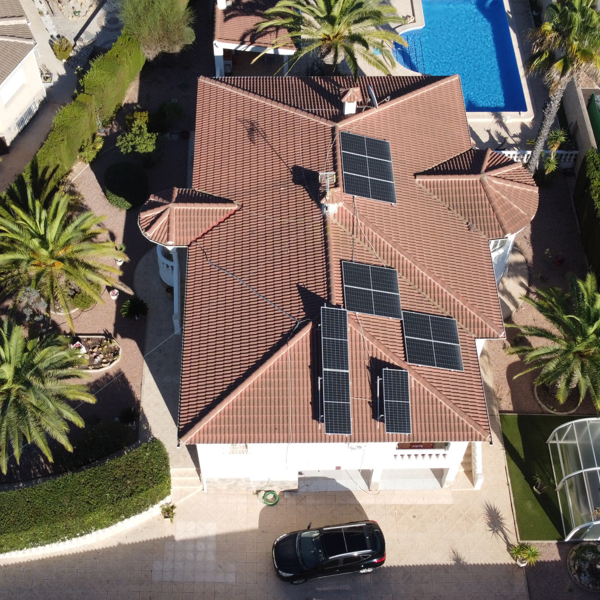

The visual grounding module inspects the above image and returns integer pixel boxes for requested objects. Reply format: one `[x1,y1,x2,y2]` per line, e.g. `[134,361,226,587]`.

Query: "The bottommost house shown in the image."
[136,71,541,508]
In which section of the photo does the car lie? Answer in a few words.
bottom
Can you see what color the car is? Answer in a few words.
black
